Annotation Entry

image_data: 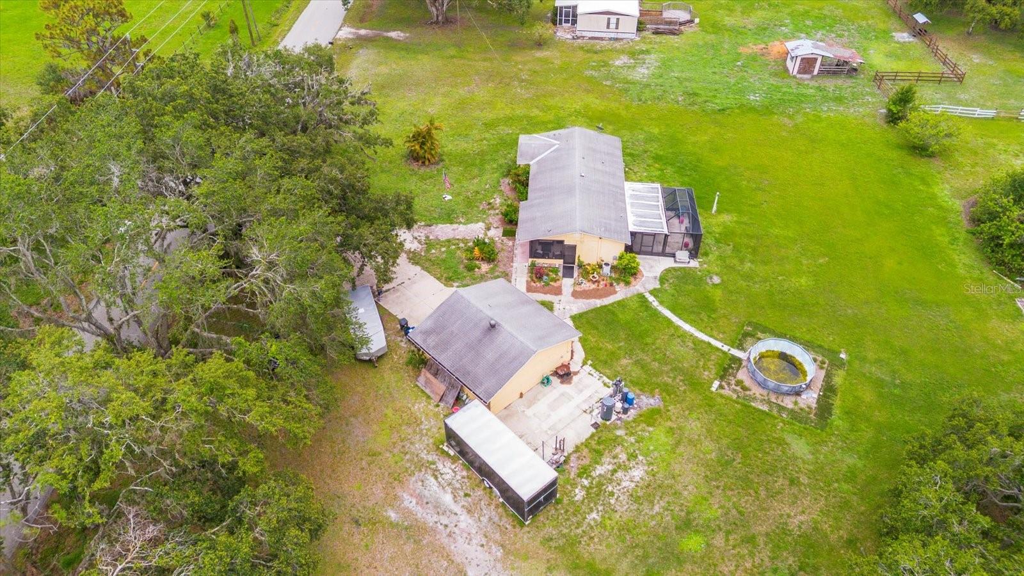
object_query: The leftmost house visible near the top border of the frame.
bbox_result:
[557,0,641,38]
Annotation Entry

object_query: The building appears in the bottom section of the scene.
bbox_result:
[407,277,581,415]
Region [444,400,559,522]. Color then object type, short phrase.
white trailer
